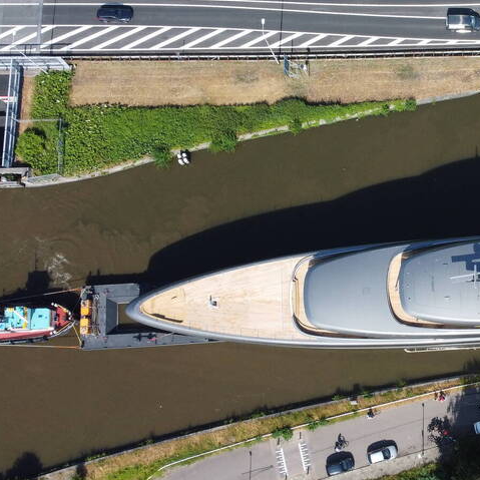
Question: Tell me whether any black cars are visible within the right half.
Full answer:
Yes, looking within the right half, one can make out a black car.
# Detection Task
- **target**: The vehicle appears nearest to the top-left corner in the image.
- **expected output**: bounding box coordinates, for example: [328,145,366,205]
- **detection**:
[96,5,134,23]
